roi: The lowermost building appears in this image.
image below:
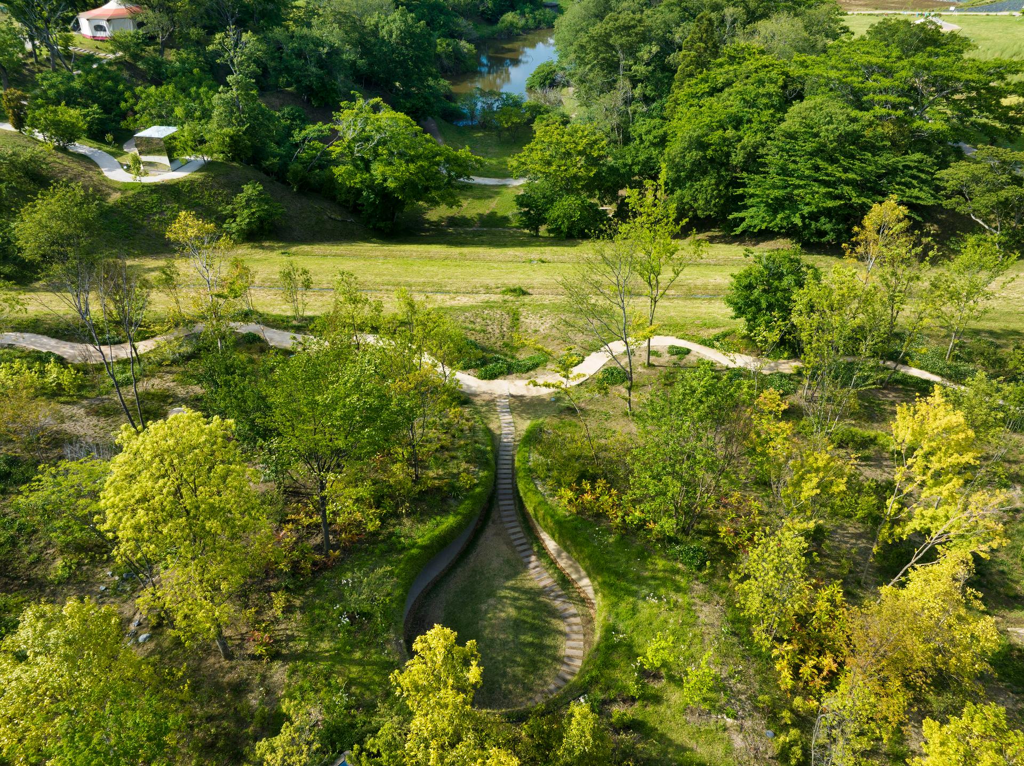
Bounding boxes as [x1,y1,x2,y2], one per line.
[133,125,198,171]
